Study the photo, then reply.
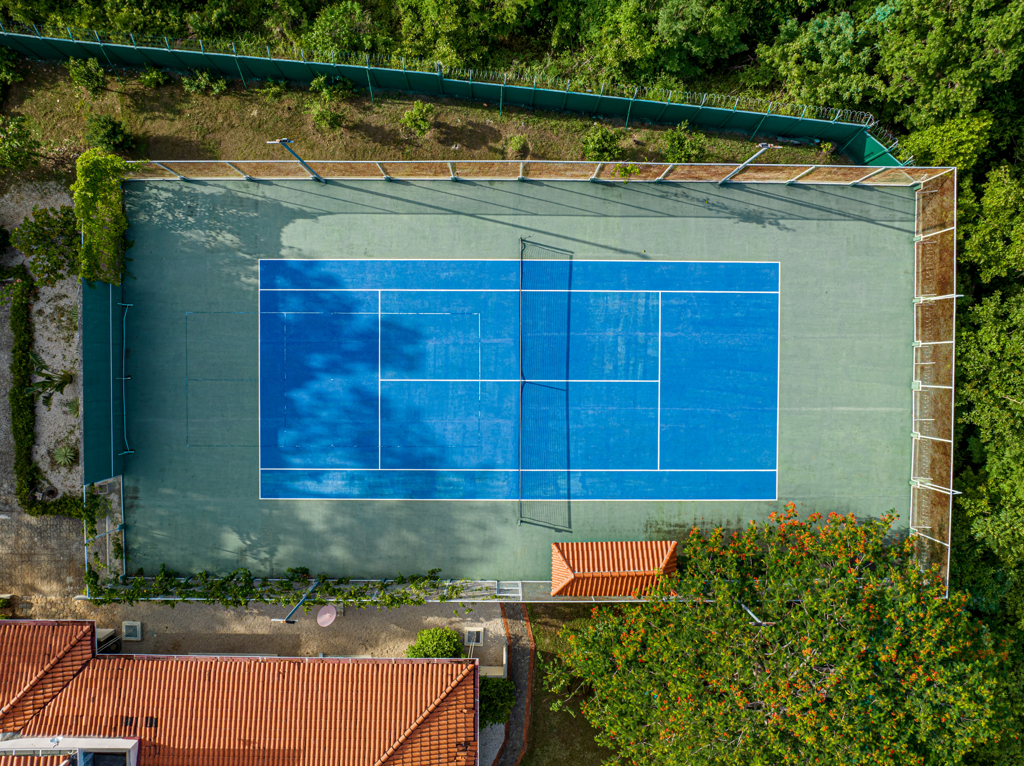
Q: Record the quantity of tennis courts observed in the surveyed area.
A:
1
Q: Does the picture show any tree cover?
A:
Yes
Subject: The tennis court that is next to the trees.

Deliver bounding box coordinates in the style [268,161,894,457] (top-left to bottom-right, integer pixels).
[119,174,926,585]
